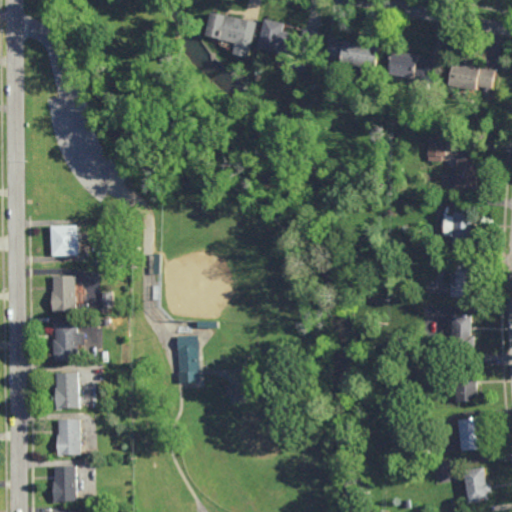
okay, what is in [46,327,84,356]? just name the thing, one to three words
house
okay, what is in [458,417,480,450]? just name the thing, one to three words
house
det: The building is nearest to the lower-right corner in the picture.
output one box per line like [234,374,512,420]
[464,467,494,500]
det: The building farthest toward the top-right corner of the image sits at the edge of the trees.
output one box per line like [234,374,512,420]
[448,66,500,89]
